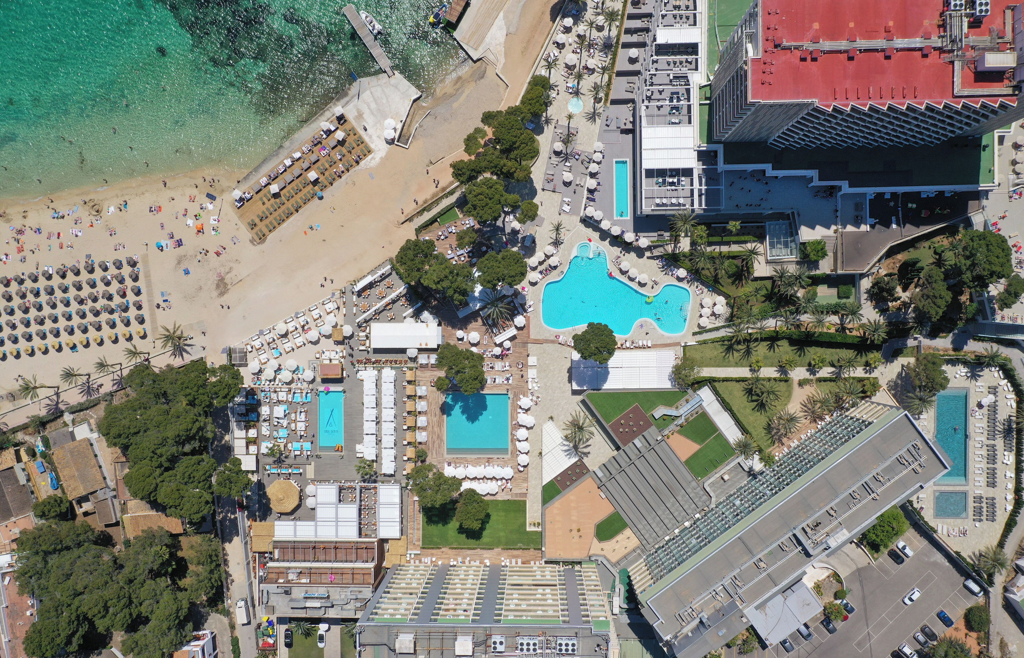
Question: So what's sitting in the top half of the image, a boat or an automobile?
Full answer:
What appears in the top half of the image is a boat.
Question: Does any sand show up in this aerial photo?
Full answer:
Yes, there's sand in this view.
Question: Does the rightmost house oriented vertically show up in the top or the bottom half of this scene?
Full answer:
The rightmost house oriented vertically is in the bottom half of the image.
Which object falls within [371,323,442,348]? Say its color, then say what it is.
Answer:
white tent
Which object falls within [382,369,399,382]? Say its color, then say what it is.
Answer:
white umbrella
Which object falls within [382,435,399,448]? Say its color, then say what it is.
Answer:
white umbrella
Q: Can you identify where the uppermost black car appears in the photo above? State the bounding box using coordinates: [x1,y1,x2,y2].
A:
[887,548,904,565]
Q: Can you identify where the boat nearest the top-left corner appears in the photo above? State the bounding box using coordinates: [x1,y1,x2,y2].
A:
[362,10,385,38]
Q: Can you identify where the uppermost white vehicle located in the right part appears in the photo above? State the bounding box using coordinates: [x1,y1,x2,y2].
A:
[896,540,914,558]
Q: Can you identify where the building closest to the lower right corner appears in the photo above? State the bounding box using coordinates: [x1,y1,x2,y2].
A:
[989,552,1024,625]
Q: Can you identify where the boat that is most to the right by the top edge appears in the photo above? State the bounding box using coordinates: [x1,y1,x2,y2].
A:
[429,3,449,30]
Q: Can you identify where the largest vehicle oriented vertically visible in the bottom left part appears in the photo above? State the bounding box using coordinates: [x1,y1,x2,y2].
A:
[235,598,249,629]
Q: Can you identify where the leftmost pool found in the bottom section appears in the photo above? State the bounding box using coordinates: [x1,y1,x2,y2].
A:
[317,390,345,455]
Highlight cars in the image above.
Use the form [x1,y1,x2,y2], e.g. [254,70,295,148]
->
[820,617,838,635]
[964,578,983,598]
[796,625,814,642]
[898,642,917,658]
[936,610,954,628]
[839,600,856,615]
[912,631,929,648]
[283,629,293,648]
[837,612,851,625]
[887,548,904,565]
[317,630,326,648]
[888,646,904,658]
[896,540,914,558]
[919,624,936,641]
[780,637,795,654]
